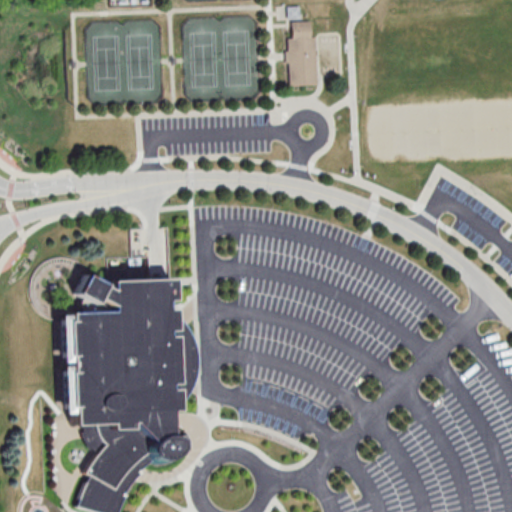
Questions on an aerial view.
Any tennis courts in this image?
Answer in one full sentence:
Yes, there is a tennis court in the image.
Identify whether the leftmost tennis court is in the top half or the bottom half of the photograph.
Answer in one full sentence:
Seen from above, the leftmost tennis court lies in the top half of the view.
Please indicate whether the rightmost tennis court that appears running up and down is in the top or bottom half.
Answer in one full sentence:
You can find the rightmost tennis court that appears running up and down in the top half.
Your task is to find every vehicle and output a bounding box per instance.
[264,114,270,125]
[495,348,512,360]
[498,357,512,368]
[460,364,481,380]
[480,332,501,344]
[355,376,364,387]
[432,398,442,407]
[488,340,508,352]
[504,366,512,374]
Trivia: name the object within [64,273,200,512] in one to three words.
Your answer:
building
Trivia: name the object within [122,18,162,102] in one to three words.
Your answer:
tennis court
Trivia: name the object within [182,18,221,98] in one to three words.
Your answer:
tennis court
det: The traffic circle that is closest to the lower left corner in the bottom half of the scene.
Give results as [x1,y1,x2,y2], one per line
[191,447,271,512]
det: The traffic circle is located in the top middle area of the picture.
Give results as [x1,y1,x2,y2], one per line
[286,110,328,152]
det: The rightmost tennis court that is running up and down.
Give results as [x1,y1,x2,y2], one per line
[220,16,256,98]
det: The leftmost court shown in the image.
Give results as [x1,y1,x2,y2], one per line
[86,20,124,102]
